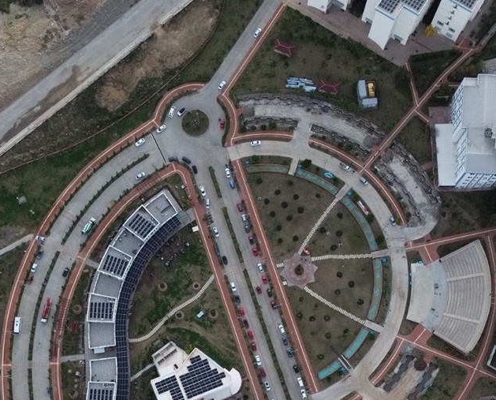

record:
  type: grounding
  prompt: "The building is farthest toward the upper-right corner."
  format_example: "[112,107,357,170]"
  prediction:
[436,0,478,42]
